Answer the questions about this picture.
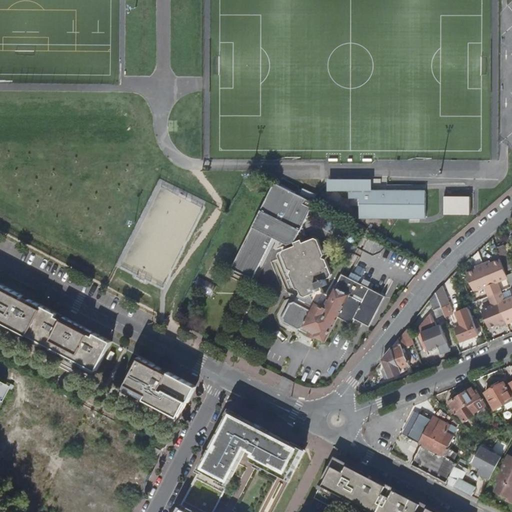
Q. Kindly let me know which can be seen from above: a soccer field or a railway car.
soccer field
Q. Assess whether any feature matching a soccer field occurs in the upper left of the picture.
Yes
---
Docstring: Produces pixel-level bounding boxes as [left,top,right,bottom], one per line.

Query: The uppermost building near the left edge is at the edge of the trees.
[0,280,114,372]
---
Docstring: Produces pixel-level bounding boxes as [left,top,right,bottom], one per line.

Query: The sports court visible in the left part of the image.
[116,179,205,288]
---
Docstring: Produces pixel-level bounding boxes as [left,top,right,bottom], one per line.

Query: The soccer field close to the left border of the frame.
[0,0,120,84]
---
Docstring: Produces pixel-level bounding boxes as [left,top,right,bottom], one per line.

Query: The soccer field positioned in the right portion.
[210,0,490,159]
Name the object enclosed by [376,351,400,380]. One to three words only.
house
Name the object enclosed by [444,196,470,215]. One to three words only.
shed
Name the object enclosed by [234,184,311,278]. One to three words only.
building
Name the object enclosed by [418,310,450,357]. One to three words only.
house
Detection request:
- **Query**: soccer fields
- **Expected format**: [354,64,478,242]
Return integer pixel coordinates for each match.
[210,0,490,159]
[0,0,120,84]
